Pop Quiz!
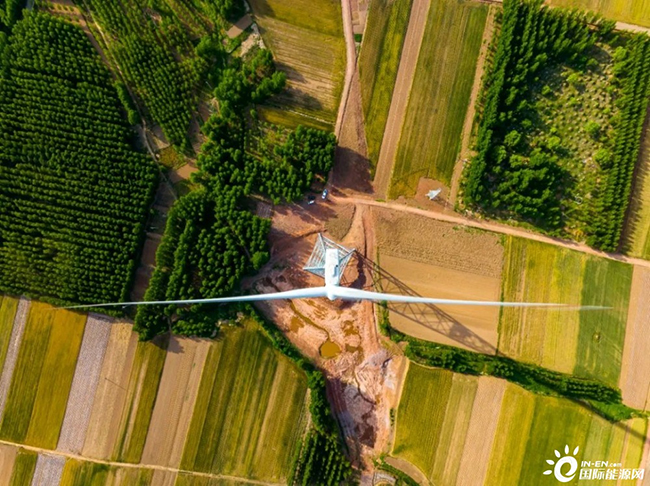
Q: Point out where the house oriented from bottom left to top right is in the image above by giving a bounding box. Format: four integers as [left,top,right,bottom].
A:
[225,14,253,39]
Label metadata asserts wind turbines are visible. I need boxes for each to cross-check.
[53,232,611,308]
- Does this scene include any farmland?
Yes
